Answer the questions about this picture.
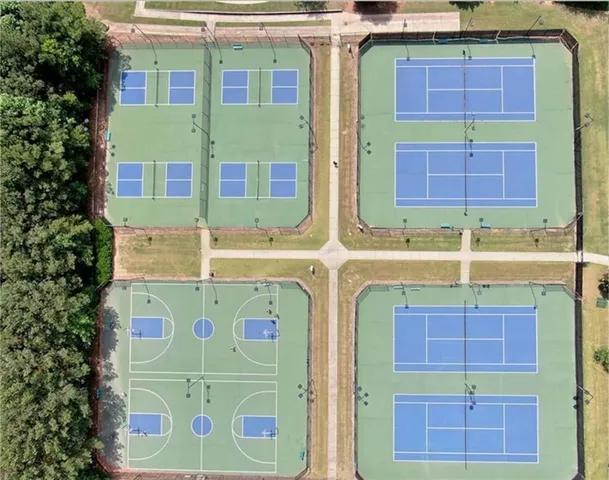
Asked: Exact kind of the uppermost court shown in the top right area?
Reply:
tennis court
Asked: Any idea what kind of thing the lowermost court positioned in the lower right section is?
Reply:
tennis court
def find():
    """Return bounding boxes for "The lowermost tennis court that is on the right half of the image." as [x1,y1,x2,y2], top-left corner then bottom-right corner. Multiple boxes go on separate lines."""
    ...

[394,394,539,463]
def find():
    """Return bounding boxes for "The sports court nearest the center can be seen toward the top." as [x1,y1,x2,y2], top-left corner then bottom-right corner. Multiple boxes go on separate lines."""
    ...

[219,162,297,198]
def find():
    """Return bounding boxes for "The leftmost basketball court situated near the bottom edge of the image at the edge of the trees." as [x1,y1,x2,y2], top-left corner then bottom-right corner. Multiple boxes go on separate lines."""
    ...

[127,379,277,473]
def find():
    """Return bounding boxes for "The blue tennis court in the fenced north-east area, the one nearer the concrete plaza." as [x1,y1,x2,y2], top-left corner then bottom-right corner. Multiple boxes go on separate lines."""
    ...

[395,57,536,121]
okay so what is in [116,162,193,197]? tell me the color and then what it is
blue sports court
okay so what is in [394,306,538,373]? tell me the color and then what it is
blue tennis court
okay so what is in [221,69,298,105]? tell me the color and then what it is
blue sports court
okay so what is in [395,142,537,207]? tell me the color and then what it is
blue tennis court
